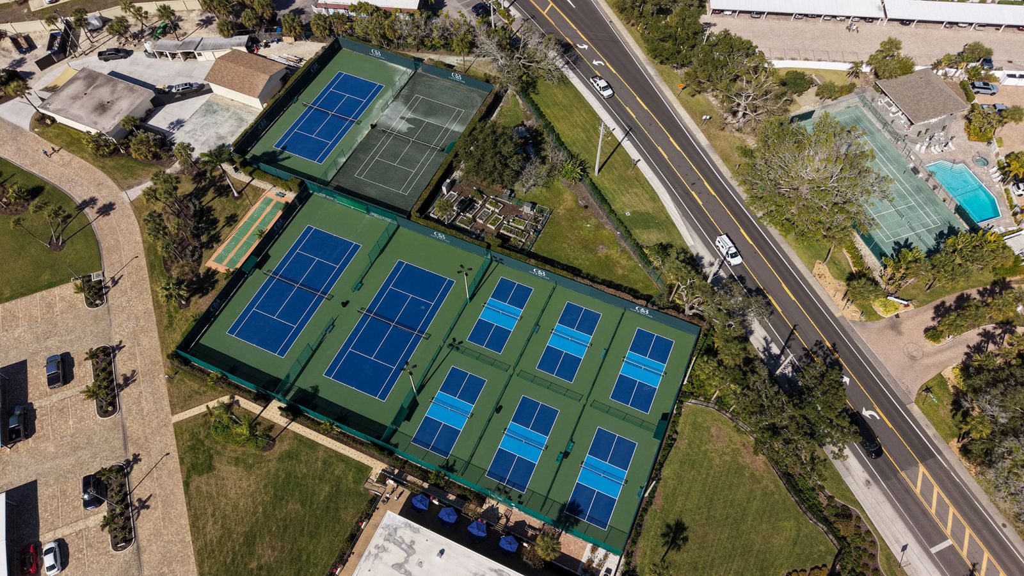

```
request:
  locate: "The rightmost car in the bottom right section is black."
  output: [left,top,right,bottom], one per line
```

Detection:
[851,412,885,454]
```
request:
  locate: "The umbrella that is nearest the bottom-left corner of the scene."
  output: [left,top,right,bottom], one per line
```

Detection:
[410,494,431,515]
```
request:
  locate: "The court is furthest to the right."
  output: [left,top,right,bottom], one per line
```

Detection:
[789,102,968,264]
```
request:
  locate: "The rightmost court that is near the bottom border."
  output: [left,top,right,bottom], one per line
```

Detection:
[538,400,659,554]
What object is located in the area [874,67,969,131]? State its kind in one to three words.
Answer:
building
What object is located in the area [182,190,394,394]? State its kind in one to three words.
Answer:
tennis court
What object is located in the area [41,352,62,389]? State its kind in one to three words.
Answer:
truck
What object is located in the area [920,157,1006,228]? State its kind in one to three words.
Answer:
swimming pool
